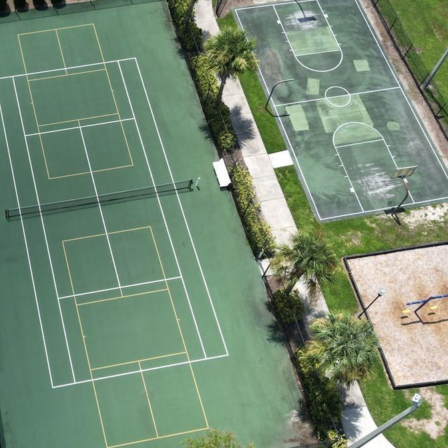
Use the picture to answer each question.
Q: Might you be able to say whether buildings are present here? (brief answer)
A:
No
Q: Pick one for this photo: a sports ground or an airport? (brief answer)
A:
sports ground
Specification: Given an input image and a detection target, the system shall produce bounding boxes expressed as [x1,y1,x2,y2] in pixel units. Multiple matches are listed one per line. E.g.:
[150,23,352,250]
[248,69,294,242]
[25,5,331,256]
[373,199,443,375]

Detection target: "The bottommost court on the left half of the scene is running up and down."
[63,226,208,448]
